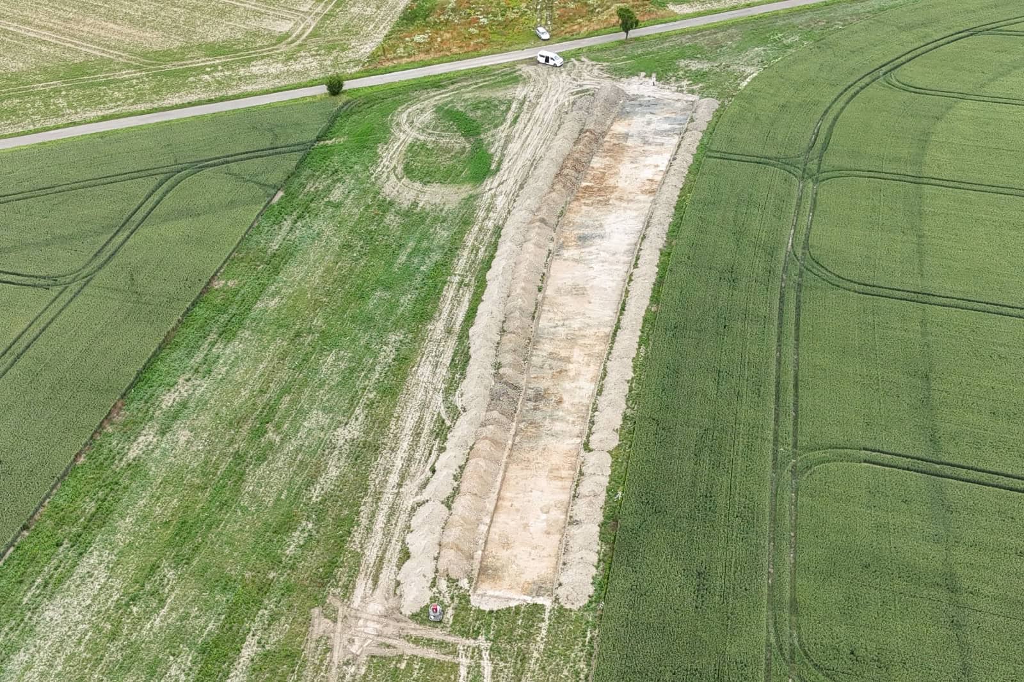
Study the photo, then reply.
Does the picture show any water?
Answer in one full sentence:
No, there is no water in the image.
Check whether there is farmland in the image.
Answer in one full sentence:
Yes, some farmland is visible.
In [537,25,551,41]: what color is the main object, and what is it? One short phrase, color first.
white car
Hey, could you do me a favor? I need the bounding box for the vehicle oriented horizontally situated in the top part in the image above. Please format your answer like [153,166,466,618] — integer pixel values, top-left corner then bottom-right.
[538,49,566,66]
